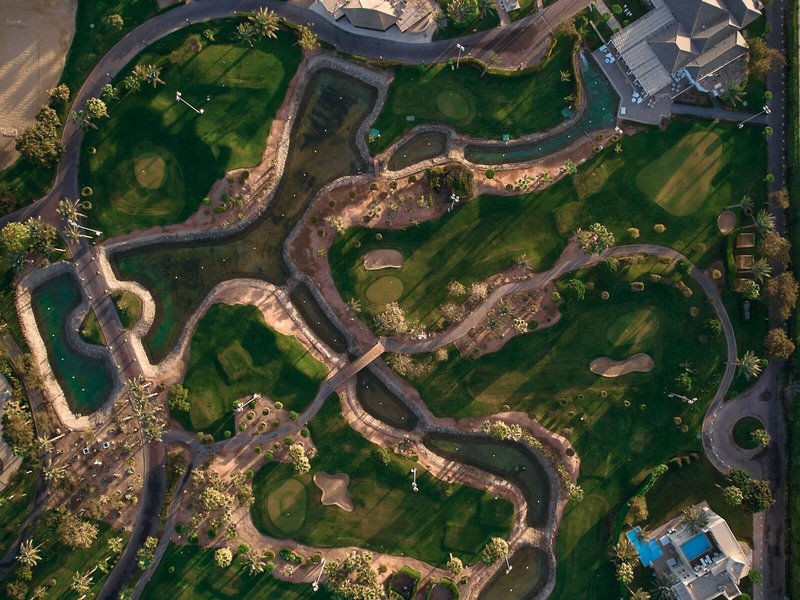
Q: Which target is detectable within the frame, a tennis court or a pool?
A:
pool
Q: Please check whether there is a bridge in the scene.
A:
Yes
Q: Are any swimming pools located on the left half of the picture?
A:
No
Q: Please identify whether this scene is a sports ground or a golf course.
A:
golf course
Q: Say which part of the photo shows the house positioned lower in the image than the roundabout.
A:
bottom right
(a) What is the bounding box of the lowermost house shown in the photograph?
[659,502,752,600]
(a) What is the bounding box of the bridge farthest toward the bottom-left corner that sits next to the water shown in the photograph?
[76,260,141,380]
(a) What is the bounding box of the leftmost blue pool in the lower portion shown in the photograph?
[626,527,664,568]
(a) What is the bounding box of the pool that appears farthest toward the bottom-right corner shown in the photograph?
[680,532,712,562]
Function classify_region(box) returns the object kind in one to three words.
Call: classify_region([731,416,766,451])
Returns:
roundabout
